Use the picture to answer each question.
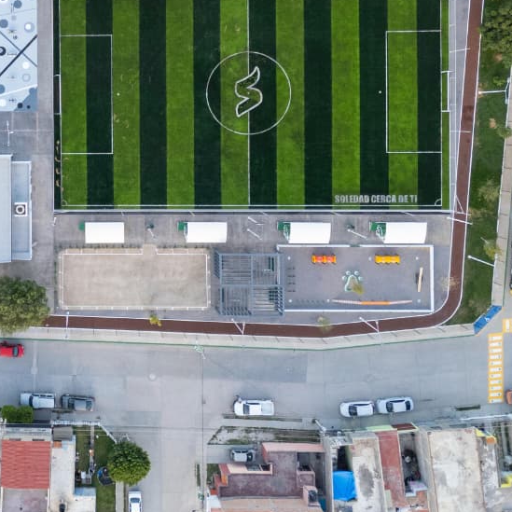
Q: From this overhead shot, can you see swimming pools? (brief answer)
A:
No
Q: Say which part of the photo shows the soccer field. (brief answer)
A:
top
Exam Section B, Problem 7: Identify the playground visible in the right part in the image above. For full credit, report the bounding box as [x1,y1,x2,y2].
[276,245,435,314]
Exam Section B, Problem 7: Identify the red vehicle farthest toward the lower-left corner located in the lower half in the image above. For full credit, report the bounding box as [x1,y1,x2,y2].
[0,342,24,358]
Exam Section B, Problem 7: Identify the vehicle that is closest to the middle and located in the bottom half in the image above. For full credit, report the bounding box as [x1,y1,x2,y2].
[232,399,274,416]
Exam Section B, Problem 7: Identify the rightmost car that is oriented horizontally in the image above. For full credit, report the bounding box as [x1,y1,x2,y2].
[374,397,413,414]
